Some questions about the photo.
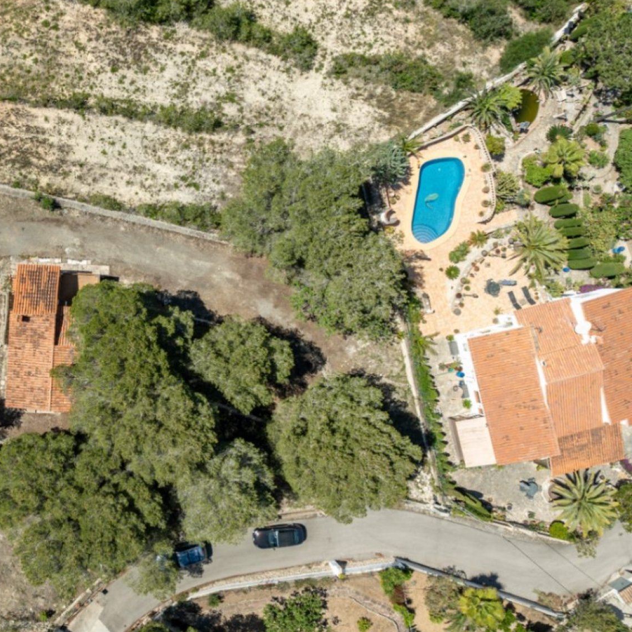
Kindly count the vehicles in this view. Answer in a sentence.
My tally gives 2 vehicles in this view.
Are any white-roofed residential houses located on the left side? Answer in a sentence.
No, no white-roofed residential house is visible on the left side.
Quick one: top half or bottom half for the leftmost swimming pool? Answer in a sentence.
It is in the top half that the leftmost swimming pool appears.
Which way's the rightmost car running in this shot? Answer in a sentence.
In this picture, the rightmost car lies from left to right.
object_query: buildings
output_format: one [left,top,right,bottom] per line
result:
[5,257,110,414]
[593,564,632,606]
[444,277,632,476]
